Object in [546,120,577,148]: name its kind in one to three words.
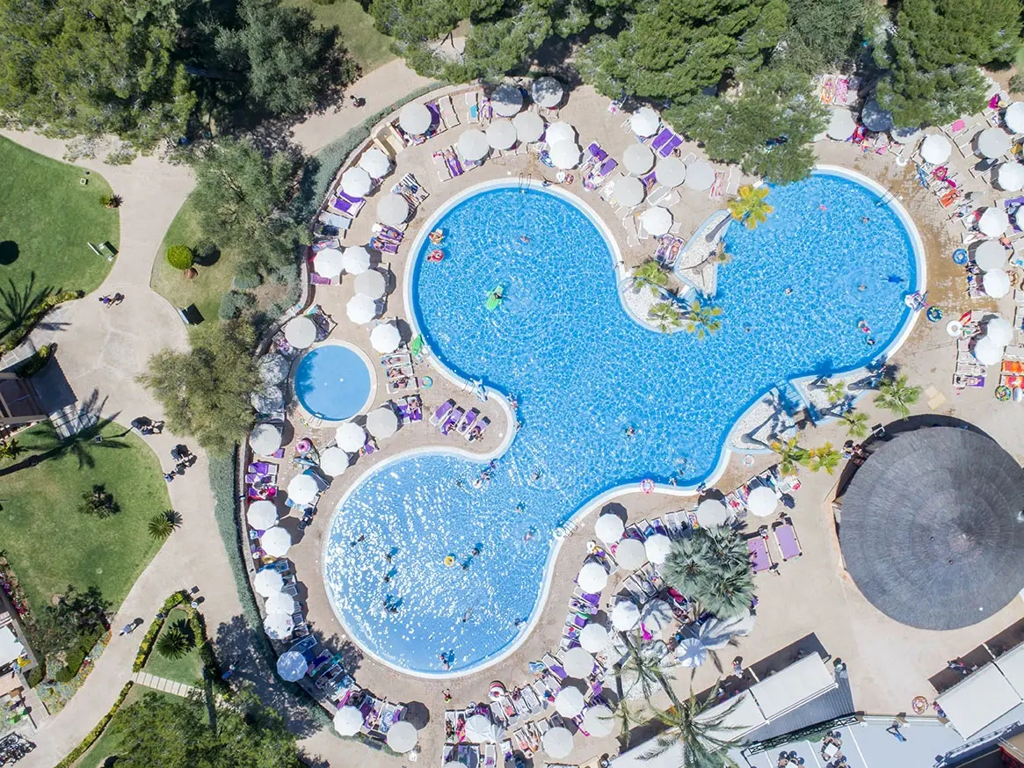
umbrella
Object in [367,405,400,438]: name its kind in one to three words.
umbrella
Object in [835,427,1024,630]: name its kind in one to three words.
shed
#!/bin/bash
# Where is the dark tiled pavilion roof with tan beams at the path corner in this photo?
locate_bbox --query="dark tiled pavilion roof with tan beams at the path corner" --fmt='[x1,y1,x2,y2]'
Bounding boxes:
[0,375,63,426]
